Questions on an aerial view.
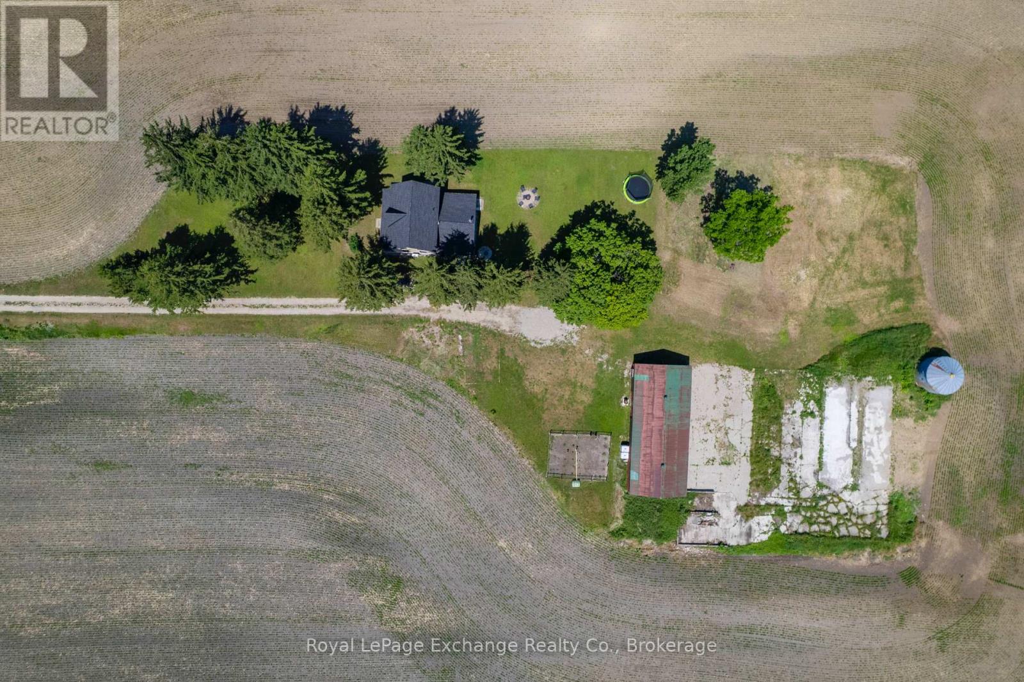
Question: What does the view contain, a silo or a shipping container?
silo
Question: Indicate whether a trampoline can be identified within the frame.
Yes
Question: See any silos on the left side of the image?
No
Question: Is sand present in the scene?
No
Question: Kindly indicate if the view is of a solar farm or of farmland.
farmland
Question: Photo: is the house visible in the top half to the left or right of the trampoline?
to the left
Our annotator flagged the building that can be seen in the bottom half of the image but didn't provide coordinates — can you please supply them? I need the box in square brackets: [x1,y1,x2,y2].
[627,364,691,498]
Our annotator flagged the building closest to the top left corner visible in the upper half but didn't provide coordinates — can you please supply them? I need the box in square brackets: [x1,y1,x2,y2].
[378,182,486,259]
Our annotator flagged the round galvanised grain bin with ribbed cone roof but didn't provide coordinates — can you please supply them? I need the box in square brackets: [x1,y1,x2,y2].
[914,356,965,395]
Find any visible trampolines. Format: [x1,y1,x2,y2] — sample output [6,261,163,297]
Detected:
[622,170,653,205]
